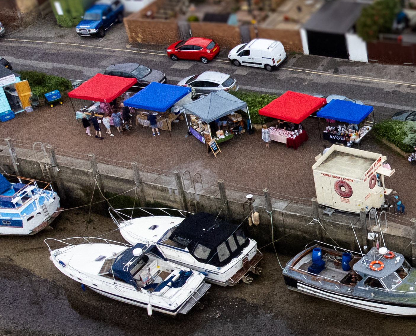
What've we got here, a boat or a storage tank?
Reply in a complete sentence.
The image shows a boat.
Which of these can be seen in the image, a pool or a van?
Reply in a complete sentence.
Visible in the photo is a van.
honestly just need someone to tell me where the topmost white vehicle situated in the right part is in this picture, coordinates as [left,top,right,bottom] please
[226,37,291,71]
